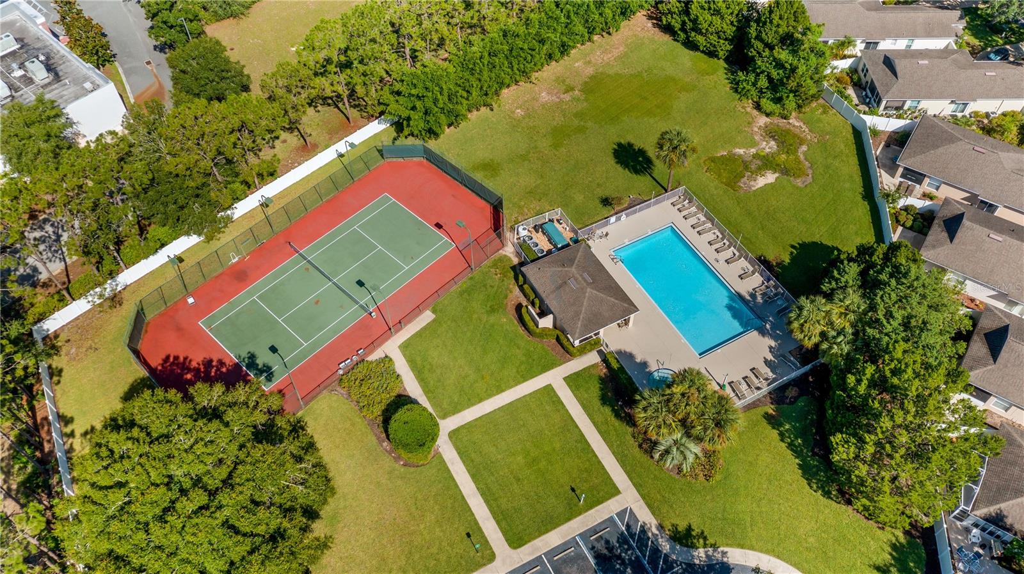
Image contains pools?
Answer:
Yes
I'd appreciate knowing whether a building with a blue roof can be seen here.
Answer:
No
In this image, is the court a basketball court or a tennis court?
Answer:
tennis court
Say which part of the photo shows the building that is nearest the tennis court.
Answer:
center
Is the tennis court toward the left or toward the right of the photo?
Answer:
left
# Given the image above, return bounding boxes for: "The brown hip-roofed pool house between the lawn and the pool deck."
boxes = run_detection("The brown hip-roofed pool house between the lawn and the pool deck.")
[521,241,640,347]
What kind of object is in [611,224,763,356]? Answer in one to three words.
swimming pool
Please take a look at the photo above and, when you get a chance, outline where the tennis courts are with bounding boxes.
[133,158,507,443]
